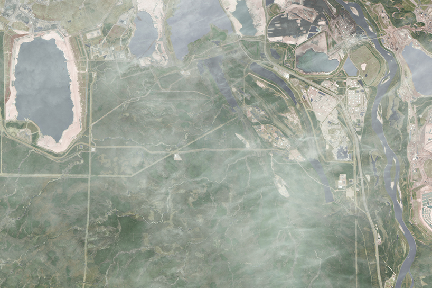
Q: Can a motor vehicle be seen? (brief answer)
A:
No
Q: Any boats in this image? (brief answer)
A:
No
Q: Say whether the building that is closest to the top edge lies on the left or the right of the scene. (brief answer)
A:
right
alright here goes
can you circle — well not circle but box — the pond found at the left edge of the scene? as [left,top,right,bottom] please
[13,38,73,143]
